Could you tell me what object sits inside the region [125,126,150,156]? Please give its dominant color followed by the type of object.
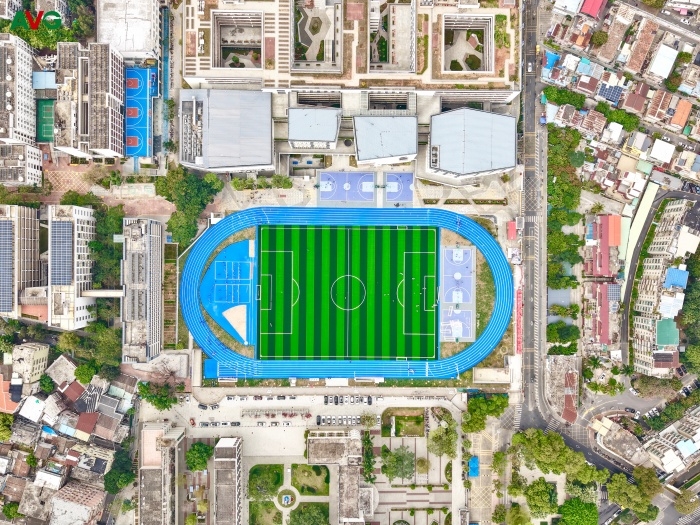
blue basketball court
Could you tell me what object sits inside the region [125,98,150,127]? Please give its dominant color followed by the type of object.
blue basketball court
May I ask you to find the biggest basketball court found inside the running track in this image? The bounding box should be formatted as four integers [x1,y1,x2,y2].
[441,245,476,342]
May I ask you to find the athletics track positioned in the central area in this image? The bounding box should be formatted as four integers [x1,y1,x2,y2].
[181,206,513,380]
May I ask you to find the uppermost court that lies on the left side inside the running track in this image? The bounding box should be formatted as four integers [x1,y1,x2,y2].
[214,261,250,280]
